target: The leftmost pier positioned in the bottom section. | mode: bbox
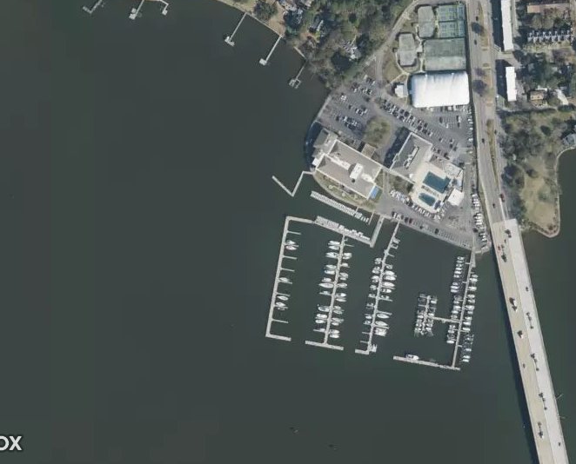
[265,216,313,344]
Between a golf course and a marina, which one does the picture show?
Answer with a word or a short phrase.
marina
